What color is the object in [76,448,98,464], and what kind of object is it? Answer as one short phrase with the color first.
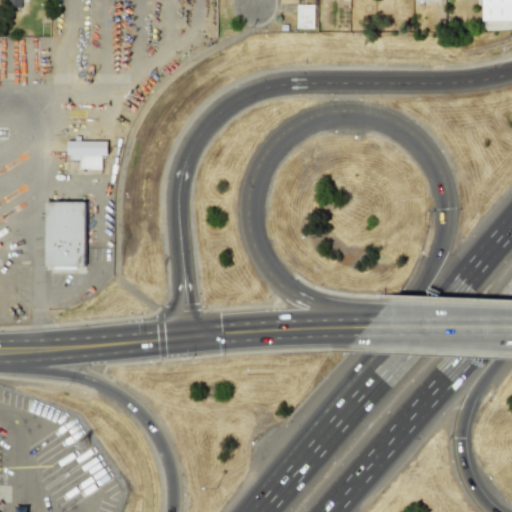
white vehicle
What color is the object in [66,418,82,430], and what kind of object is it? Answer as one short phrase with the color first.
white vehicle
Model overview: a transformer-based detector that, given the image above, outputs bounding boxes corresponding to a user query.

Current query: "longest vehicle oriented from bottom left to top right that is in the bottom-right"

[449,376,465,394]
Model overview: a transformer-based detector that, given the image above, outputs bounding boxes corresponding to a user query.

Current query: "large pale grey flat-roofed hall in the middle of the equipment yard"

[46,203,86,270]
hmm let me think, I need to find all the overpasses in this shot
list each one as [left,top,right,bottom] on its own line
[336,296,512,358]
